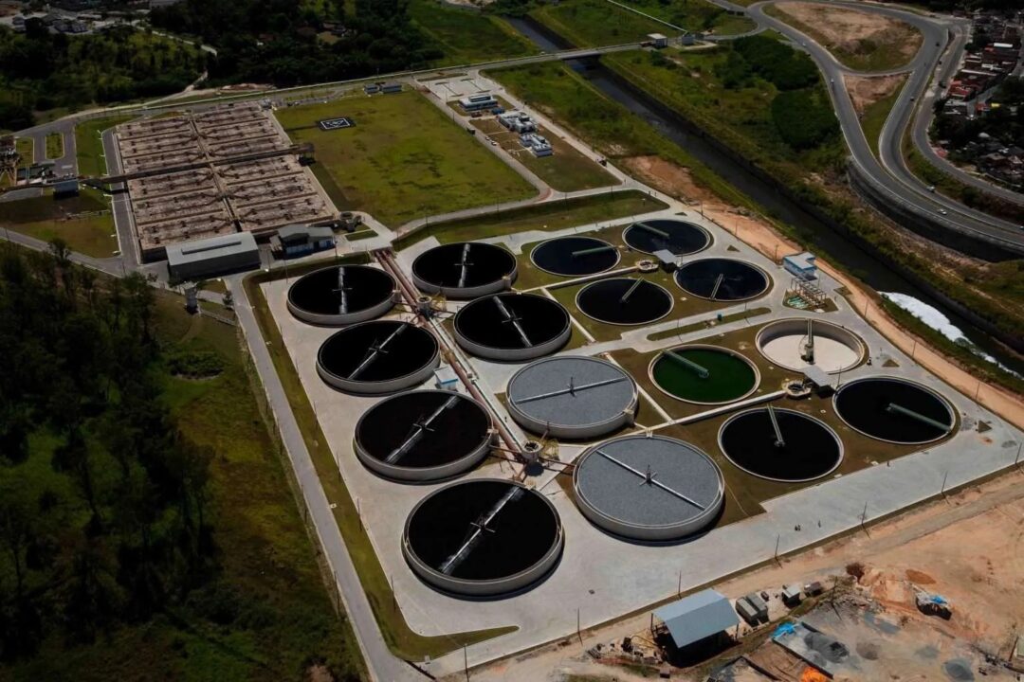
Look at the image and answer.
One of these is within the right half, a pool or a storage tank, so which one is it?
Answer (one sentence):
Visible within the right half is a storage tank.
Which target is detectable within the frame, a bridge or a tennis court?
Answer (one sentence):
Looking from above, you can make out a bridge.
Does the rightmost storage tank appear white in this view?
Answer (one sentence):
No, the color of the rightmost storage tank is black.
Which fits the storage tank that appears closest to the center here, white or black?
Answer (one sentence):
The storage tank that appears closest to the center looks black in the image.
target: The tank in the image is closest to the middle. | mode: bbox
[453,291,574,363]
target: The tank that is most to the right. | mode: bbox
[832,377,958,447]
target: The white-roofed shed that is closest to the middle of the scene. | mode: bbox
[433,366,459,391]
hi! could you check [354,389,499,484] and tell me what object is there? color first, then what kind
black storage tank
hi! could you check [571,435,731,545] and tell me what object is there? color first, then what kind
gray storage tank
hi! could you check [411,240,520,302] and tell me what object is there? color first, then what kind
black storage tank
